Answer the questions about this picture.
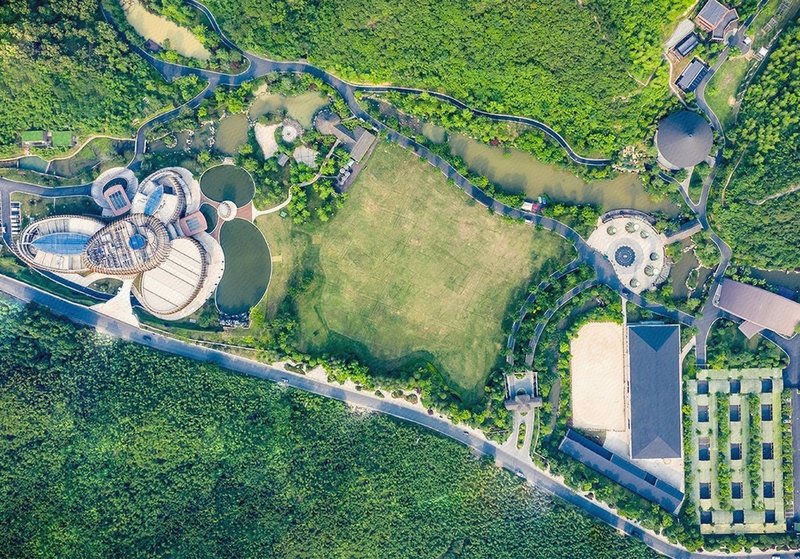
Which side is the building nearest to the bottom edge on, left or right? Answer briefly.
right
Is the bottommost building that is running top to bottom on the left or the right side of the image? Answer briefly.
right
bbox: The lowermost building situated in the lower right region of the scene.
[559,429,684,511]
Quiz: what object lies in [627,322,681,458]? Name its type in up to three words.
building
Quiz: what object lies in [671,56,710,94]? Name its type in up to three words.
house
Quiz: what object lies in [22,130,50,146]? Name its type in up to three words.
building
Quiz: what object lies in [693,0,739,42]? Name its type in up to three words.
house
